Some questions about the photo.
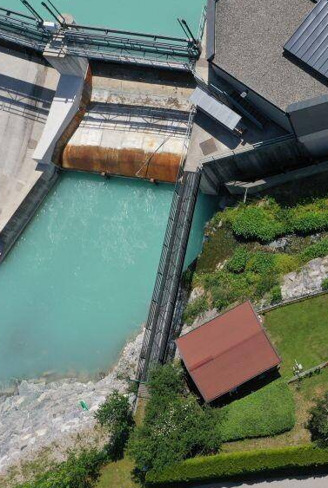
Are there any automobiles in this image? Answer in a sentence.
No, no automobile is visible in the scene.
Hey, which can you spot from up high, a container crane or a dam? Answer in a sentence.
Visible in the photo is a dam.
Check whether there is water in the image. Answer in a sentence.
Yes, some water is visible.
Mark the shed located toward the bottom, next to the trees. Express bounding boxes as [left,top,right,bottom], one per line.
[175,301,282,403]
